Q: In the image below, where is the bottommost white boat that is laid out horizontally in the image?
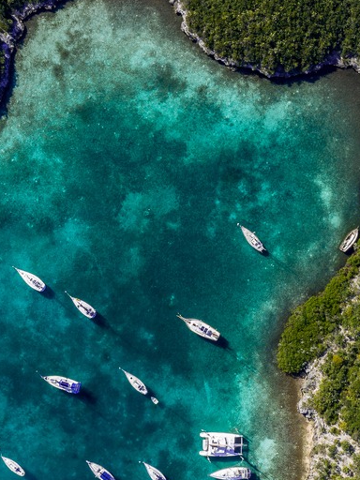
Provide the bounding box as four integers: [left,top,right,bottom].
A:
[210,467,253,480]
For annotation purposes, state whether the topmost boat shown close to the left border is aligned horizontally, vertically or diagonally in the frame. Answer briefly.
diagonally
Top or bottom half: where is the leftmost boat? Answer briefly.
bottom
